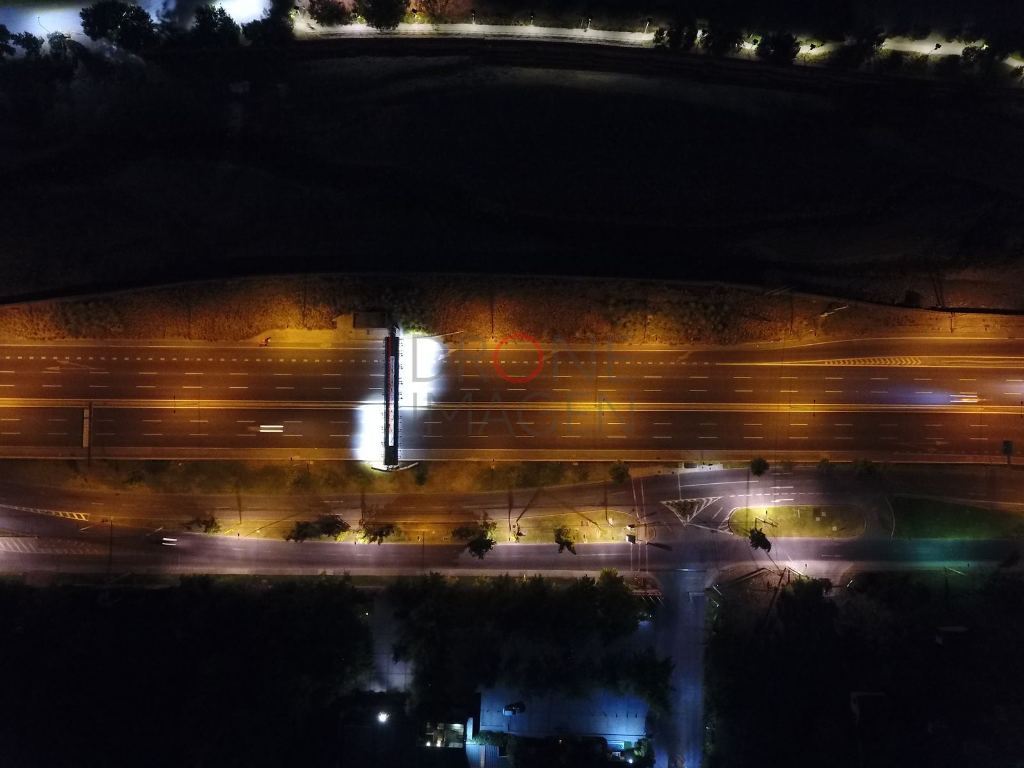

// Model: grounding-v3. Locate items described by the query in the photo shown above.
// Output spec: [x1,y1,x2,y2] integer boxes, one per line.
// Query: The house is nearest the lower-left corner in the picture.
[340,705,424,768]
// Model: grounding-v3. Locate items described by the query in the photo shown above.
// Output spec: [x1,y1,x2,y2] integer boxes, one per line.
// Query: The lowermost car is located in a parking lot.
[504,702,525,717]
